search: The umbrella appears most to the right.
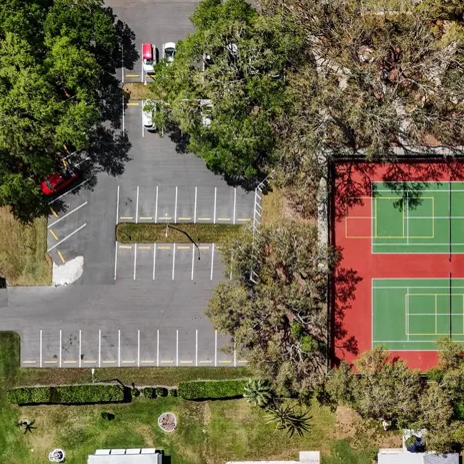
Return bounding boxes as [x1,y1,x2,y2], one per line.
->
[409,435,423,450]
